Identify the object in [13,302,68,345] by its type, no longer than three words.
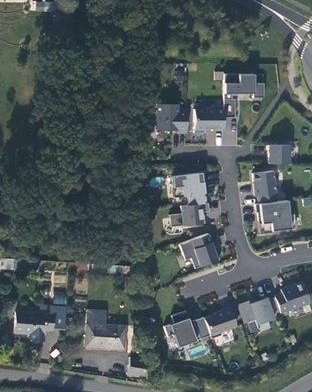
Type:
house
